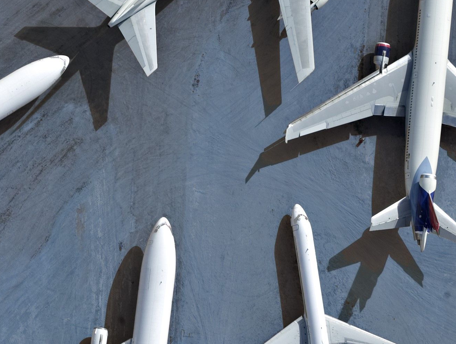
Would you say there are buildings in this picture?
No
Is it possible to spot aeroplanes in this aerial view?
Yes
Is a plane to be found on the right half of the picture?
Yes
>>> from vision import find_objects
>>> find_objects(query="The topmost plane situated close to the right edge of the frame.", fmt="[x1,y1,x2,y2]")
[282,0,456,252]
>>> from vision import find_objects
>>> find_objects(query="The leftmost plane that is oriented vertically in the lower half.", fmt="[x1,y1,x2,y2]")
[125,217,175,344]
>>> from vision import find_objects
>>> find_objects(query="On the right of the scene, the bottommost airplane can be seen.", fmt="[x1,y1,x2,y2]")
[264,204,394,344]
